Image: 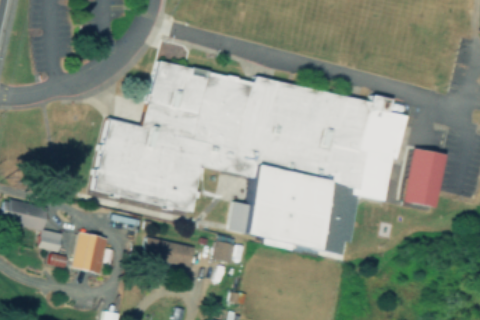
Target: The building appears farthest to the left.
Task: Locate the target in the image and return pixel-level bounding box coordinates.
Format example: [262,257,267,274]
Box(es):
[4,198,48,233]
